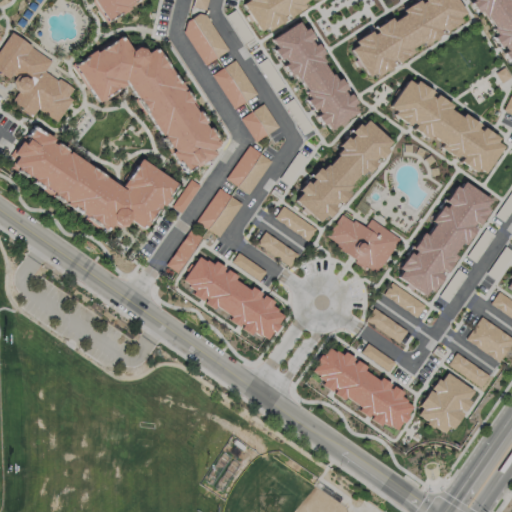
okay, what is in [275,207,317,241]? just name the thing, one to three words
building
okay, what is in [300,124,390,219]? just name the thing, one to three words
building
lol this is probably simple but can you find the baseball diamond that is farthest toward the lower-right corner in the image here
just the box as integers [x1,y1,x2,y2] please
[226,450,349,512]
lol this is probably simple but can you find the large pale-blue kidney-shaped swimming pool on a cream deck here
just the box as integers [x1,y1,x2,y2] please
[366,160,438,230]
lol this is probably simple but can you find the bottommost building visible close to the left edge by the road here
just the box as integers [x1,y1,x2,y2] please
[14,132,180,230]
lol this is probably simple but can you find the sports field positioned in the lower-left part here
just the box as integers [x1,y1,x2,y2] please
[3,312,256,512]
